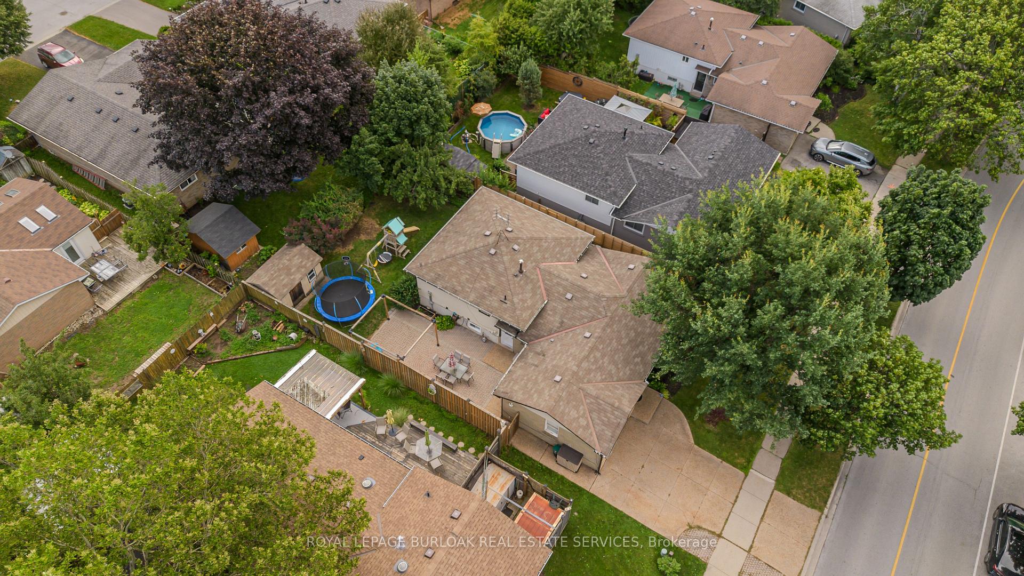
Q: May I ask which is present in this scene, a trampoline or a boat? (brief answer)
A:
trampoline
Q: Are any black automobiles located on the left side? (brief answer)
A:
No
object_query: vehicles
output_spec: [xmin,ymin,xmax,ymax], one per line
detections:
[984,504,1024,576]
[811,138,881,177]
[35,40,87,69]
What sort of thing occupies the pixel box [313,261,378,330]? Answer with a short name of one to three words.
trampoline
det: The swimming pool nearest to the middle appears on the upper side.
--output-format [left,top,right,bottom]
[479,112,526,154]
